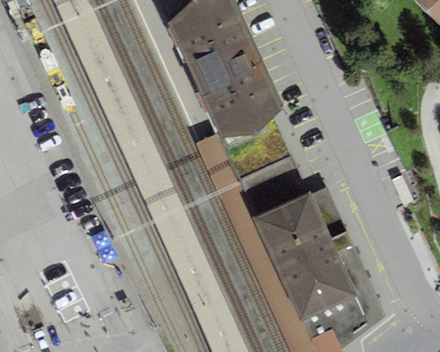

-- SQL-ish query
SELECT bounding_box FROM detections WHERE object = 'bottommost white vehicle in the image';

[33,328,50,352]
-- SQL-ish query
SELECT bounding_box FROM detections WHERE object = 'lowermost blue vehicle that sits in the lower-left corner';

[46,326,61,346]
